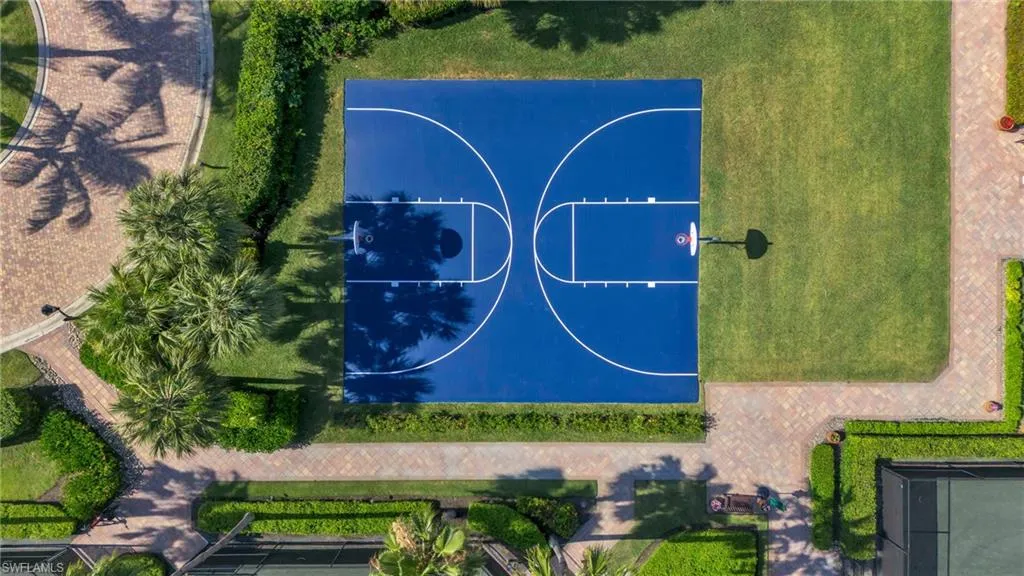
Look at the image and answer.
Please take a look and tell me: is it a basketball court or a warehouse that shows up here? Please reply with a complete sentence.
Looking from above, you can make out a basketball court.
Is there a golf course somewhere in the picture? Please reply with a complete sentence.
No, this view has no golf course in it.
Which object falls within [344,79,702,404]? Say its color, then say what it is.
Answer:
blue basketball court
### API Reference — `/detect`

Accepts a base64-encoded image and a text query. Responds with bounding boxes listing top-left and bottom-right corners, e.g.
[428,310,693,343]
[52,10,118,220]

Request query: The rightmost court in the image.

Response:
[887,463,1024,576]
